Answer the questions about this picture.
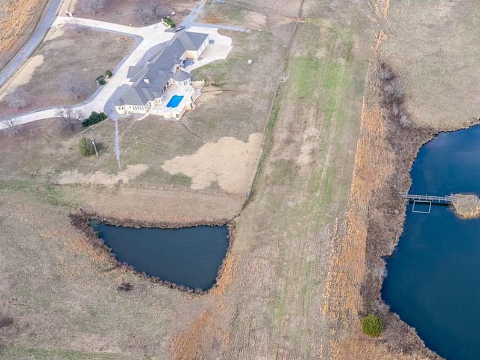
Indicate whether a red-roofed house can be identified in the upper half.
No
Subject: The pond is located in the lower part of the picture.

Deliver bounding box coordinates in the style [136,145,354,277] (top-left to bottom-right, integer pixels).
[94,221,230,291]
